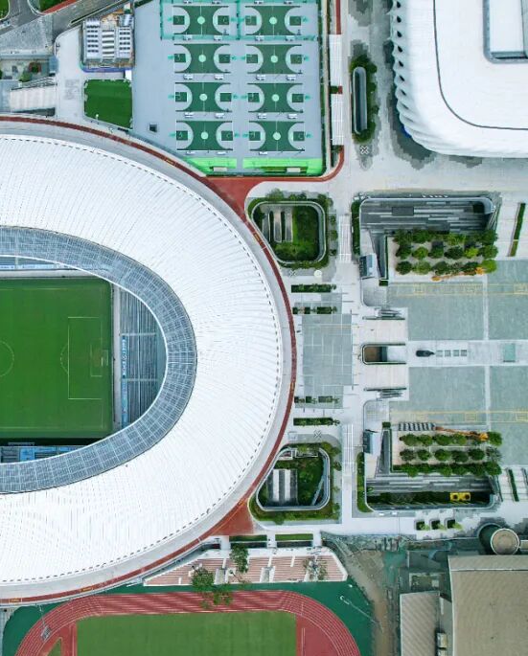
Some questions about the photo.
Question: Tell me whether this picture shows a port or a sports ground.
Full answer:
The area seen from above is a sports ground.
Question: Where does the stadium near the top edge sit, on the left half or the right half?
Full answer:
It is on the right.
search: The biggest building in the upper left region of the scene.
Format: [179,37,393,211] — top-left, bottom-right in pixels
[79,3,135,75]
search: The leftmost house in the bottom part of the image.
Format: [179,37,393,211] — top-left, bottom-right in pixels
[360,429,376,454]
